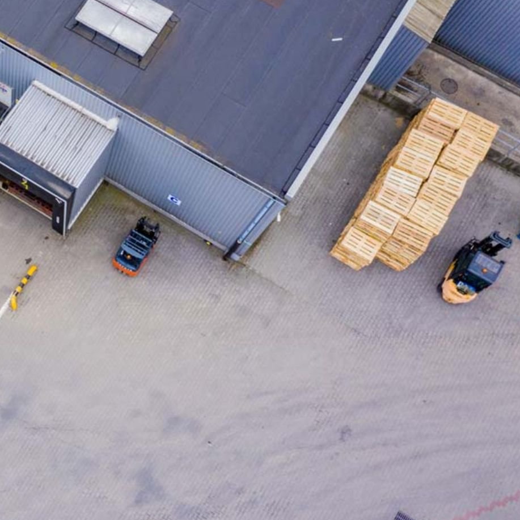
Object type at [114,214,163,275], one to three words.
work vehicle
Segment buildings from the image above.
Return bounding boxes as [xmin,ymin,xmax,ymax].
[432,0,520,91]
[0,0,417,262]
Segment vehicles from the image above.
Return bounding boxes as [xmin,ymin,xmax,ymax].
[114,214,163,275]
[434,231,514,308]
